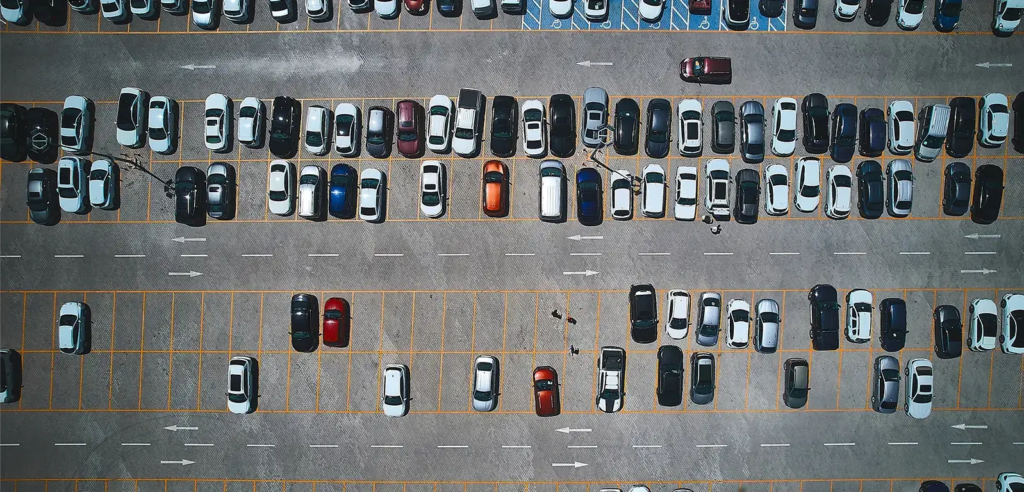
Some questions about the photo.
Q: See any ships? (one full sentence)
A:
No, there is no ship in the image.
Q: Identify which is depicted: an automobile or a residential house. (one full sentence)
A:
The one in the frame is an automobile.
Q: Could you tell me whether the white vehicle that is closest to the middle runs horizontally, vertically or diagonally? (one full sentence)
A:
I'd say the white vehicle that is closest to the middle is aligned vertically in the picture.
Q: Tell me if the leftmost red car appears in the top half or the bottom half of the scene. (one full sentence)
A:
The bottom half of the photo is where the leftmost red car is.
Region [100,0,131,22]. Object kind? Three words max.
car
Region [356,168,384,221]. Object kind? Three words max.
car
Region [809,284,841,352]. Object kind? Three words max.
truck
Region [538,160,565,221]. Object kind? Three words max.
vehicle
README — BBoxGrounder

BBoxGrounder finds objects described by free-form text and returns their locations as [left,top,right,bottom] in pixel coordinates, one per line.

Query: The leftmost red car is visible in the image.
[319,297,347,346]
